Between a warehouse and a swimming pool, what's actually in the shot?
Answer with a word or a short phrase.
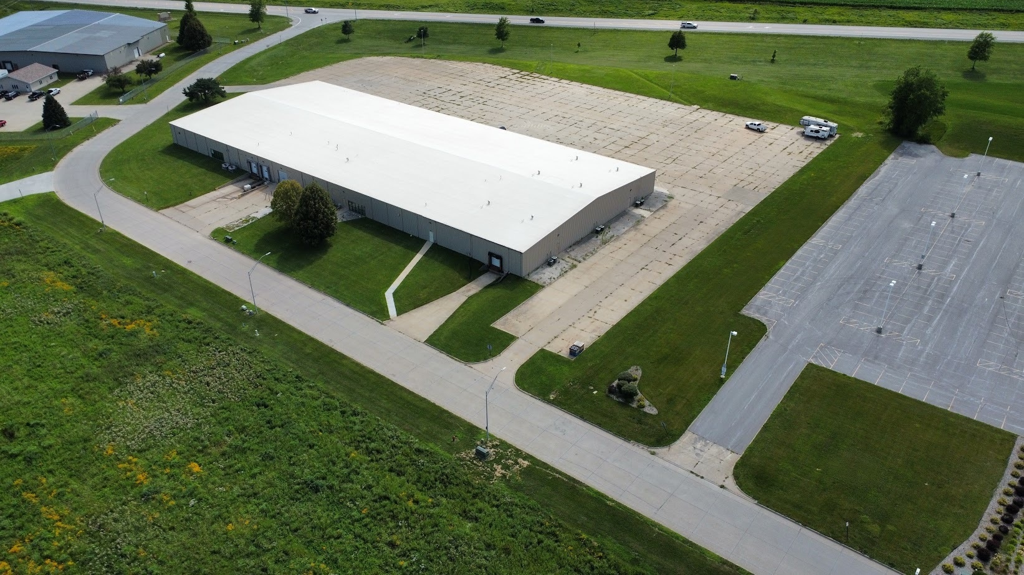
warehouse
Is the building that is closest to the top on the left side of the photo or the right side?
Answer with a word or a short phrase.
left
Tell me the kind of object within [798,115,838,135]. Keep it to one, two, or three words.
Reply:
camper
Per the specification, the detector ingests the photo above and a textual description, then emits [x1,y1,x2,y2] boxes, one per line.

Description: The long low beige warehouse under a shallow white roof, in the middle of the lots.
[169,81,658,277]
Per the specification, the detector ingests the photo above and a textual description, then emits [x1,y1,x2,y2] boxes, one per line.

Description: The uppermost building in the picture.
[0,9,171,71]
